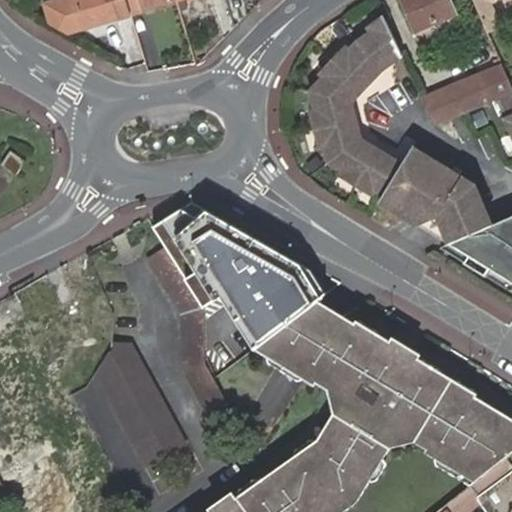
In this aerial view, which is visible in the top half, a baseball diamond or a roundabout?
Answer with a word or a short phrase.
roundabout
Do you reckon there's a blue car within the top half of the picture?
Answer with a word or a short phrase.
No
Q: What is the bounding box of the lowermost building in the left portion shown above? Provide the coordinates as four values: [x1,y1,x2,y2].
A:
[72,341,187,472]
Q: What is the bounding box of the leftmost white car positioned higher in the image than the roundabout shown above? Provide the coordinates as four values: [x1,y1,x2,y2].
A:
[106,26,122,48]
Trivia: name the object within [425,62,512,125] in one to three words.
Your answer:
house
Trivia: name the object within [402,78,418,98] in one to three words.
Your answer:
car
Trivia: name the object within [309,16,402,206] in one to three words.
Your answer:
building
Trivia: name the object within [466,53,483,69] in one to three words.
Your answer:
car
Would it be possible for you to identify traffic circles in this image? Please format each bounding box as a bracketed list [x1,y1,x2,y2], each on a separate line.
[68,70,272,206]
